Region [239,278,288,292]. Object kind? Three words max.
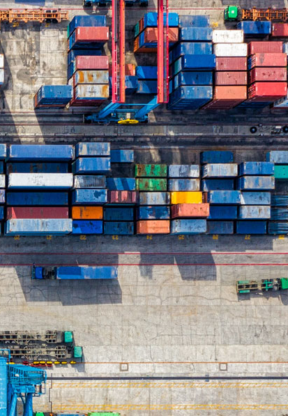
vehicle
